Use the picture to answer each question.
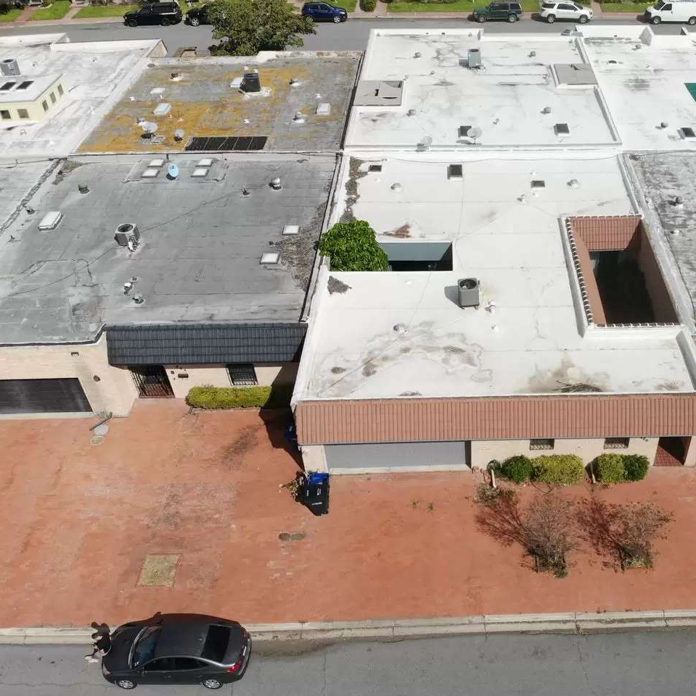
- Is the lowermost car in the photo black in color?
Yes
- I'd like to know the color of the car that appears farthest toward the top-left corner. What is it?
black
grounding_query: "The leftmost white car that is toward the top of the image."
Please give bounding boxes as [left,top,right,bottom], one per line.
[540,0,592,22]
